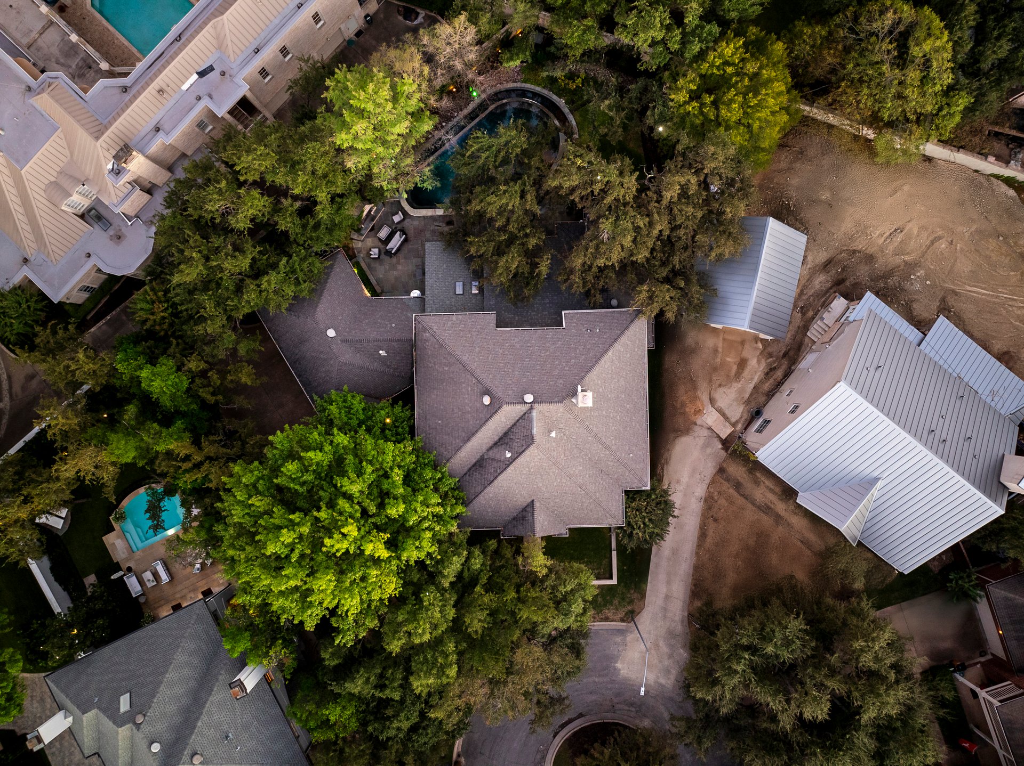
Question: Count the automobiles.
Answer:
zero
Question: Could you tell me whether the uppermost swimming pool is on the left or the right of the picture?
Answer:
left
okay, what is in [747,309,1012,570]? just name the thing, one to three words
house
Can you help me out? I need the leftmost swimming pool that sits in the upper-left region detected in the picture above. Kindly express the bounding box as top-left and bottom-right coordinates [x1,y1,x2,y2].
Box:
[86,0,202,62]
